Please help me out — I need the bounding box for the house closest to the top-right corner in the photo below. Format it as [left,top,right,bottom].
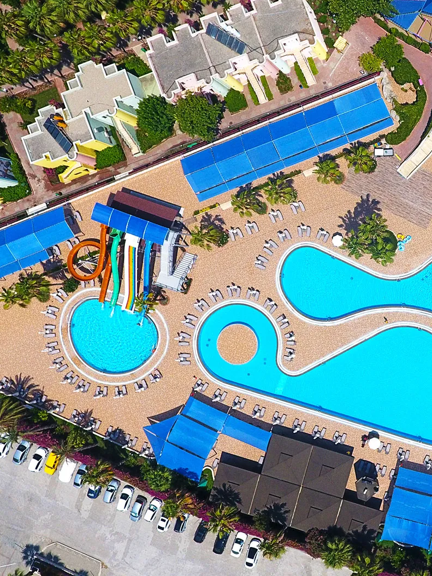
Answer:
[144,0,326,105]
